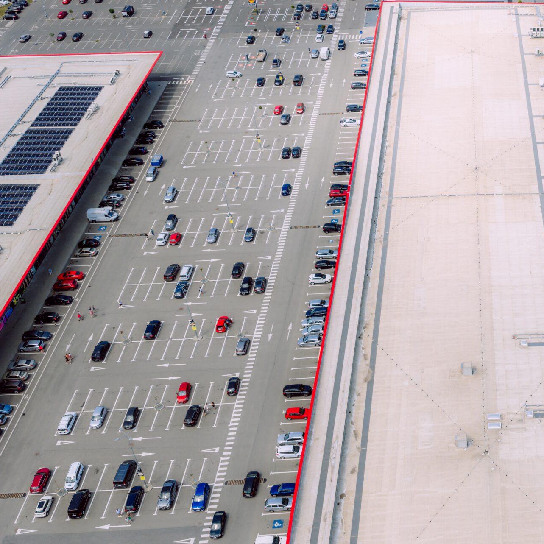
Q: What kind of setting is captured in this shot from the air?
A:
parking lot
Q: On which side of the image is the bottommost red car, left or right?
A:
left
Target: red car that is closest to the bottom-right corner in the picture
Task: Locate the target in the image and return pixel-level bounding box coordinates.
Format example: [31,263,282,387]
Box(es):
[284,407,311,421]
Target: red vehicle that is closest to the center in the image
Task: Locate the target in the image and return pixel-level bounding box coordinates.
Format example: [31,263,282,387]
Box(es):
[216,317,232,334]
